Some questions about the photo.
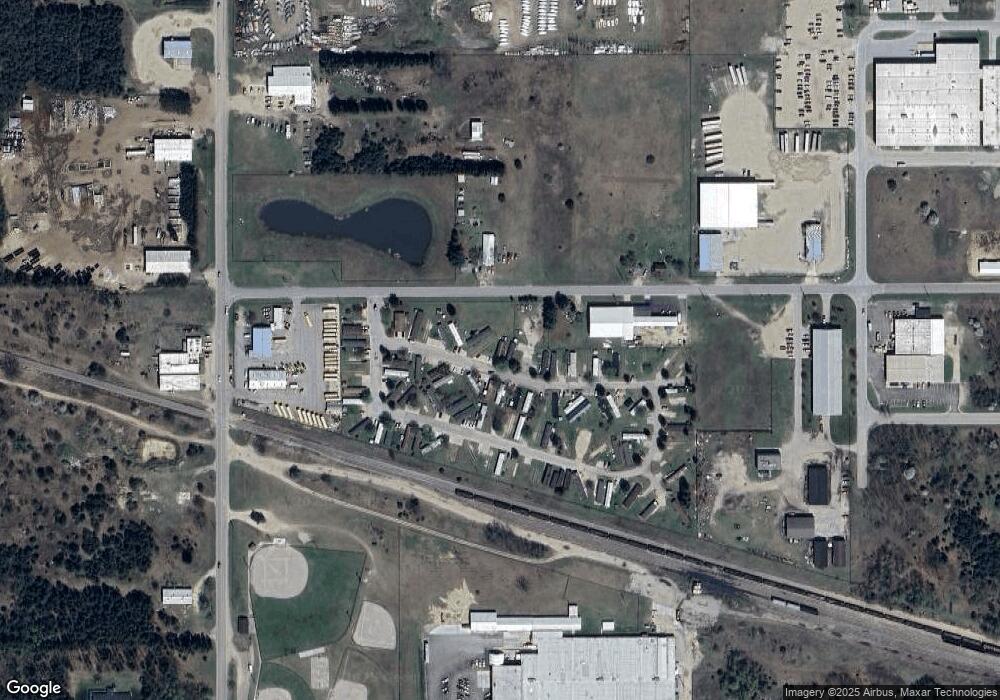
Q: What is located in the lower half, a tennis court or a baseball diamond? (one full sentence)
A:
The feature located in the lower half is a baseball diamond.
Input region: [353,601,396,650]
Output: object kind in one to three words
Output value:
baseball field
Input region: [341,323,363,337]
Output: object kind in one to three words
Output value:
house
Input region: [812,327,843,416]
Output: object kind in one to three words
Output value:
building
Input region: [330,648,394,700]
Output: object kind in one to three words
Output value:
baseball field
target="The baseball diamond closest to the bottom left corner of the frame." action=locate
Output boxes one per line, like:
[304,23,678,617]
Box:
[256,663,312,700]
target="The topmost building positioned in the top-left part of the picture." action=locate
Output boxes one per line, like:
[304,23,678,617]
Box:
[163,40,192,59]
